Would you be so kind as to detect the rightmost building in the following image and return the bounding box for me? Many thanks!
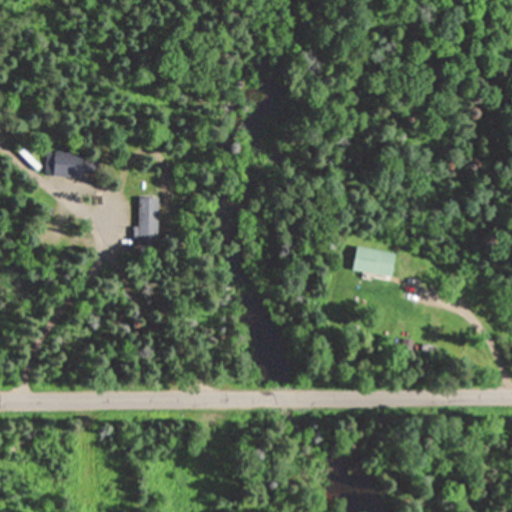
[354,246,396,276]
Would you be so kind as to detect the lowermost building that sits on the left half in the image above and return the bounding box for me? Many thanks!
[134,196,160,236]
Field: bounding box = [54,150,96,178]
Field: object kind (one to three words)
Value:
house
